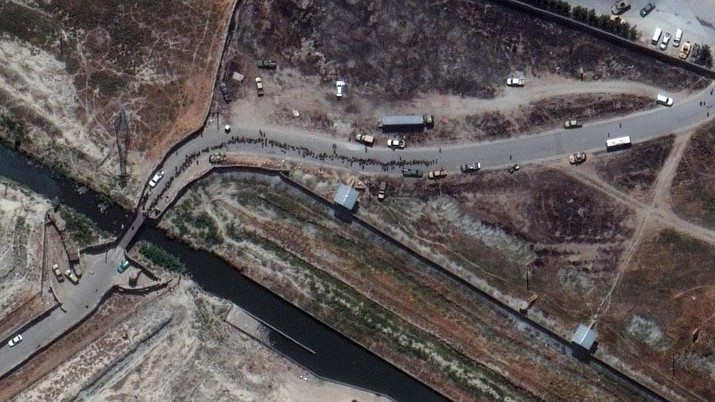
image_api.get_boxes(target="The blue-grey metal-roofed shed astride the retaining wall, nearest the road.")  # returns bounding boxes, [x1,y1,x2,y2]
[332,184,361,213]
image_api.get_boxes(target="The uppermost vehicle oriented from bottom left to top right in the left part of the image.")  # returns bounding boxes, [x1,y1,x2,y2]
[148,170,164,188]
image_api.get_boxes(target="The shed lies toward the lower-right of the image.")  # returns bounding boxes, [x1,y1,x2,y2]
[571,325,600,353]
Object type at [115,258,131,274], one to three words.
vehicle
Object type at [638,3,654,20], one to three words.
vehicle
